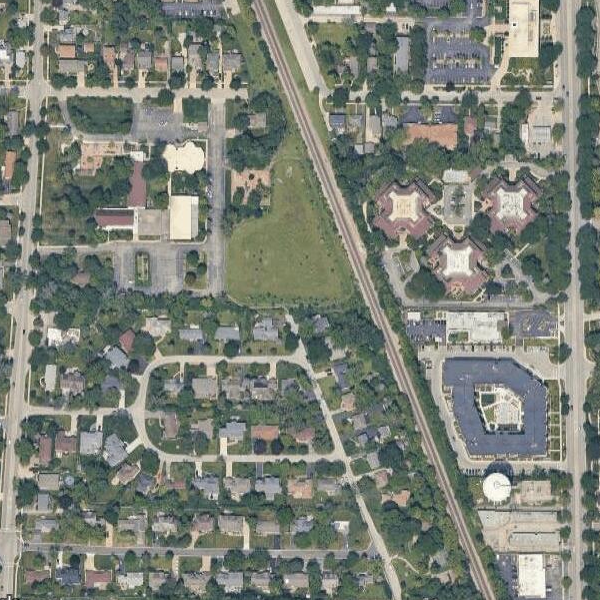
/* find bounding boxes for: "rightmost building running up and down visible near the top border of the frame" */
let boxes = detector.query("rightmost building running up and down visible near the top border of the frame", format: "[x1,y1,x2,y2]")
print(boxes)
[510,0,539,61]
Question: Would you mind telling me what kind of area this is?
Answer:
residential area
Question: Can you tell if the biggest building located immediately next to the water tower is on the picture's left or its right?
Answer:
right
